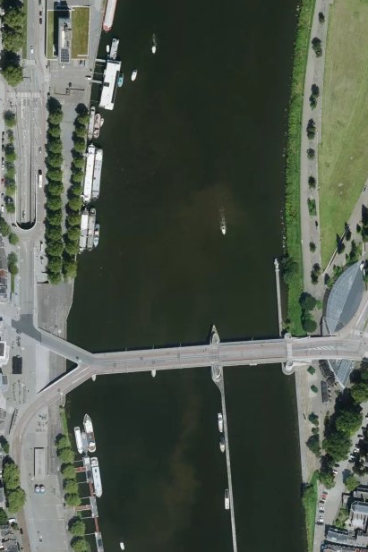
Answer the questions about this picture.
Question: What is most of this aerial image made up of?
water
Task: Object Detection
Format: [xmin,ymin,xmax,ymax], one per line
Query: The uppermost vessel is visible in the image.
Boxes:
[104,0,117,32]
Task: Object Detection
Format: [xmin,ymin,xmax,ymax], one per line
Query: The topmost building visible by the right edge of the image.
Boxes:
[323,260,364,336]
